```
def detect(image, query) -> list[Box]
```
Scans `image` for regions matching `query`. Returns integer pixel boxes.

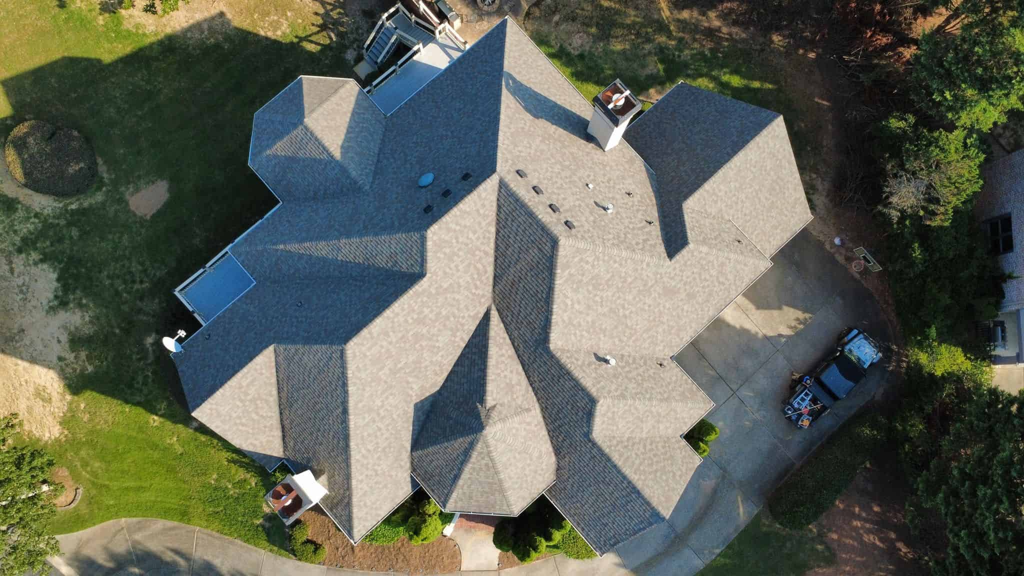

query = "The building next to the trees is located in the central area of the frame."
[168,13,815,560]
